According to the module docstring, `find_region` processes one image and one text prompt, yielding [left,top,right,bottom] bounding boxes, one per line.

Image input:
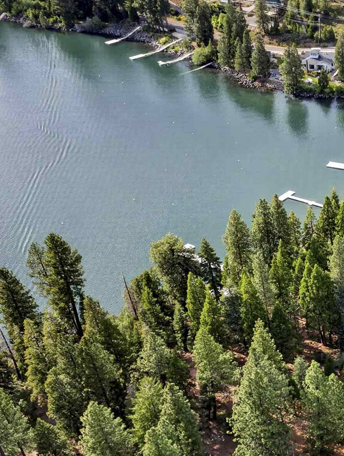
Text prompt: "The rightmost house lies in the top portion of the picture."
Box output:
[298,47,337,76]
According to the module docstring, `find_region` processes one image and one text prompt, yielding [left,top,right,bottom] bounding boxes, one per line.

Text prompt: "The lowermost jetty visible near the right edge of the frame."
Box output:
[277,189,337,210]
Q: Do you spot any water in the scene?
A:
Yes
